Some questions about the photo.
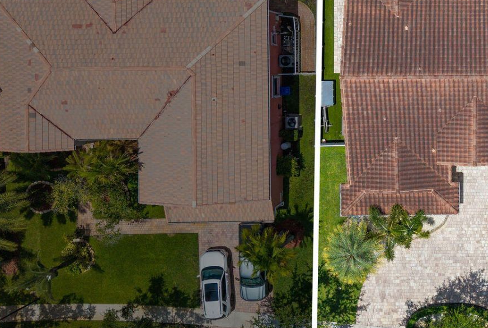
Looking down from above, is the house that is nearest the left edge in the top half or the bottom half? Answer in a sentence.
The house that is nearest the left edge sits in the top half of the picture.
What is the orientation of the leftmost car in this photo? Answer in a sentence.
In this picture, the leftmost car is oriented vertically.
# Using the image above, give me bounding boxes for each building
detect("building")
[339,0,488,218]
[0,0,287,225]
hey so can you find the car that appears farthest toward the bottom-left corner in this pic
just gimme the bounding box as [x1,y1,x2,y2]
[199,245,238,319]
